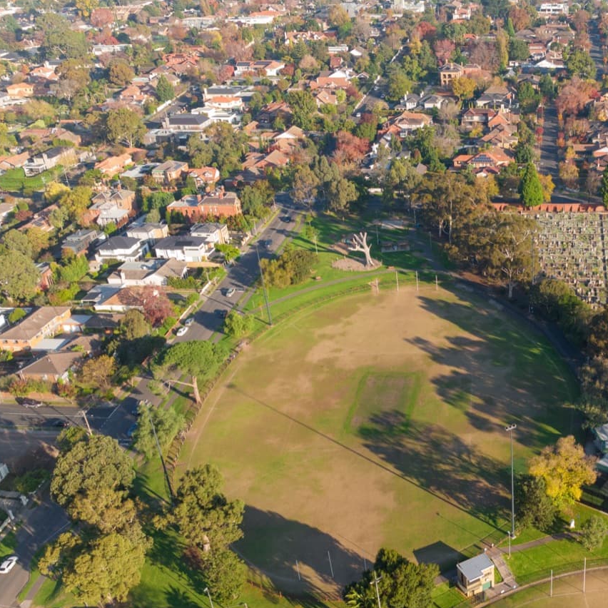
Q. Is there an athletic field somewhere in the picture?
Yes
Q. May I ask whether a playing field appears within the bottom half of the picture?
Yes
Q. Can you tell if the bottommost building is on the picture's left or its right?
right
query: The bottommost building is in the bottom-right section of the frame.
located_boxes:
[447,539,500,596]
